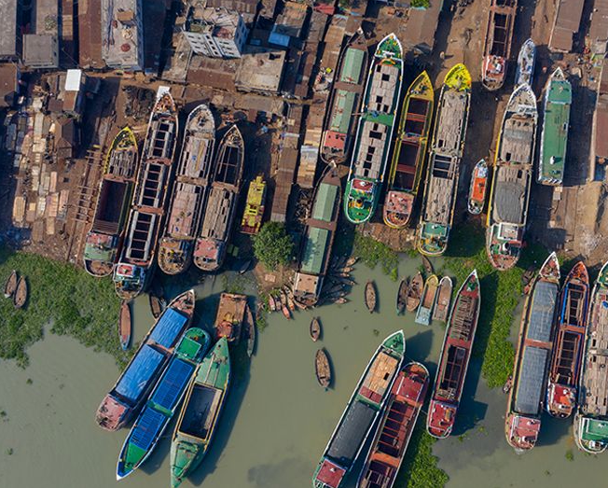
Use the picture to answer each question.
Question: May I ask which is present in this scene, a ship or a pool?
ship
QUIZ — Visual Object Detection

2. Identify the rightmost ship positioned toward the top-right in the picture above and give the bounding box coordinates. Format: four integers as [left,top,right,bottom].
[536,66,569,185]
